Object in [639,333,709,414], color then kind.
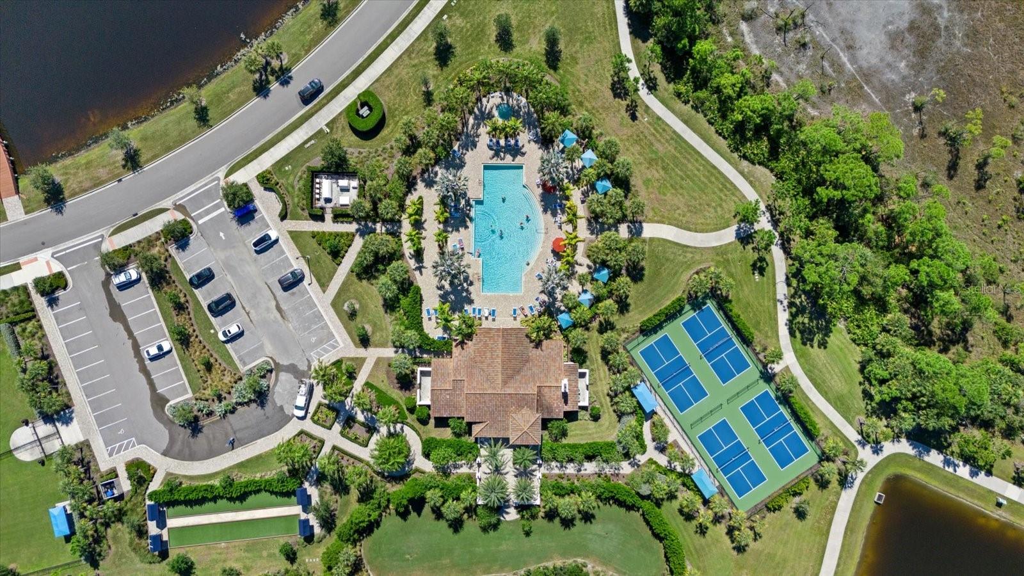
blue sports court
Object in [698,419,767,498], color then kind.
blue sports court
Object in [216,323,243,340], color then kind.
white car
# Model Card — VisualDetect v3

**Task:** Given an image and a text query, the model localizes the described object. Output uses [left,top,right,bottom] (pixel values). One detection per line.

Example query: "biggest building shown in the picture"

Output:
[417,326,588,445]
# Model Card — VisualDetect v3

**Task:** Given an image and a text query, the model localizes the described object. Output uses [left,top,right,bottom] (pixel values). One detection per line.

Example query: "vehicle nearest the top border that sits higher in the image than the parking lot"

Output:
[296,79,323,101]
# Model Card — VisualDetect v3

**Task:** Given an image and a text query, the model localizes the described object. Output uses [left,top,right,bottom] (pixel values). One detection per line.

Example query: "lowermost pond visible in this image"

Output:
[853,473,1024,576]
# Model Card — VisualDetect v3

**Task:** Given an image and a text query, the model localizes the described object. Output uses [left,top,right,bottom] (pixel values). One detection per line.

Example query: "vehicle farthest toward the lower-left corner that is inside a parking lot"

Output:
[141,342,170,358]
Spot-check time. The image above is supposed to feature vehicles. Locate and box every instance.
[187,267,213,285]
[229,202,256,219]
[206,294,234,314]
[141,342,170,358]
[216,323,243,340]
[291,381,310,418]
[275,269,304,289]
[296,79,323,101]
[250,231,277,251]
[109,269,139,287]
